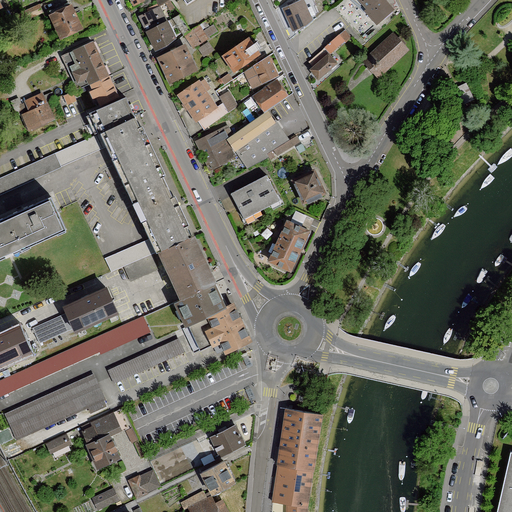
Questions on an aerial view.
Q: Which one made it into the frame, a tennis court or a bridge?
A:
bridge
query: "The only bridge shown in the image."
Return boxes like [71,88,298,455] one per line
[328,328,473,406]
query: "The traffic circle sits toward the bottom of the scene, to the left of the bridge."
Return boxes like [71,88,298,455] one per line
[253,292,326,365]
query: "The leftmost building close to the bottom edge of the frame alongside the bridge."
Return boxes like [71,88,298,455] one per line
[272,409,323,512]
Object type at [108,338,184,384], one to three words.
shed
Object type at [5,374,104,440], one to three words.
shed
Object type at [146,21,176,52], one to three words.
house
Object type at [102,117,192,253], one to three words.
building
